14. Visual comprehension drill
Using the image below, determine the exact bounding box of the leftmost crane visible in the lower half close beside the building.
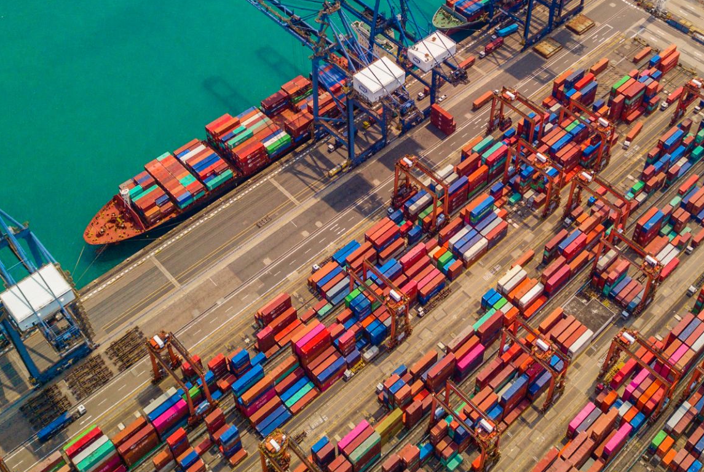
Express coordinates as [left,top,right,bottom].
[497,313,577,409]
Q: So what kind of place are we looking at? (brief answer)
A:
port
